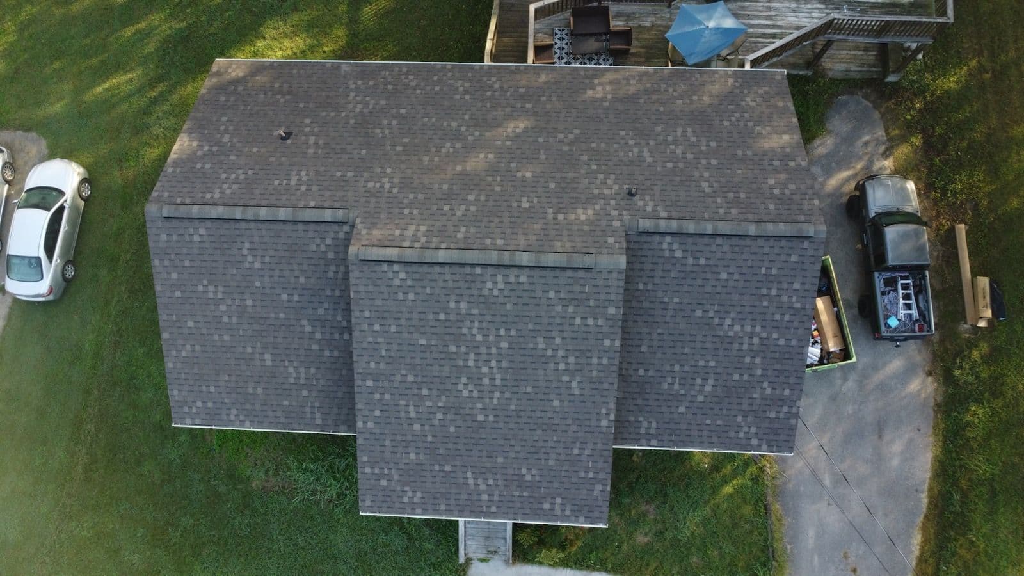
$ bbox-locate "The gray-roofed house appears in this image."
[146,55,825,532]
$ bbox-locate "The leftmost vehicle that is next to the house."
[3,161,96,306]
